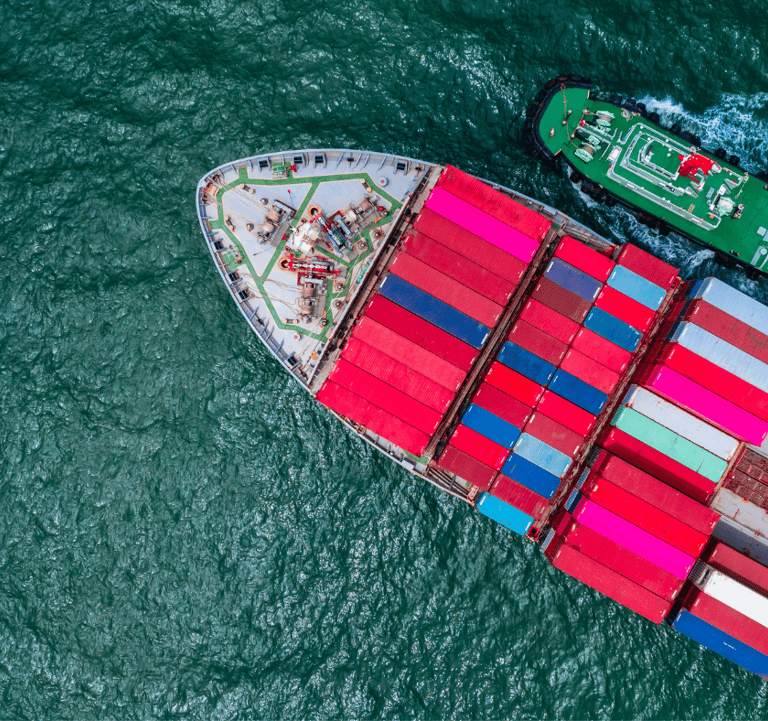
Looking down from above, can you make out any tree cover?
No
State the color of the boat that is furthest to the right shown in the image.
green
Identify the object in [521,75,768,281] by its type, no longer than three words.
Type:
boat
